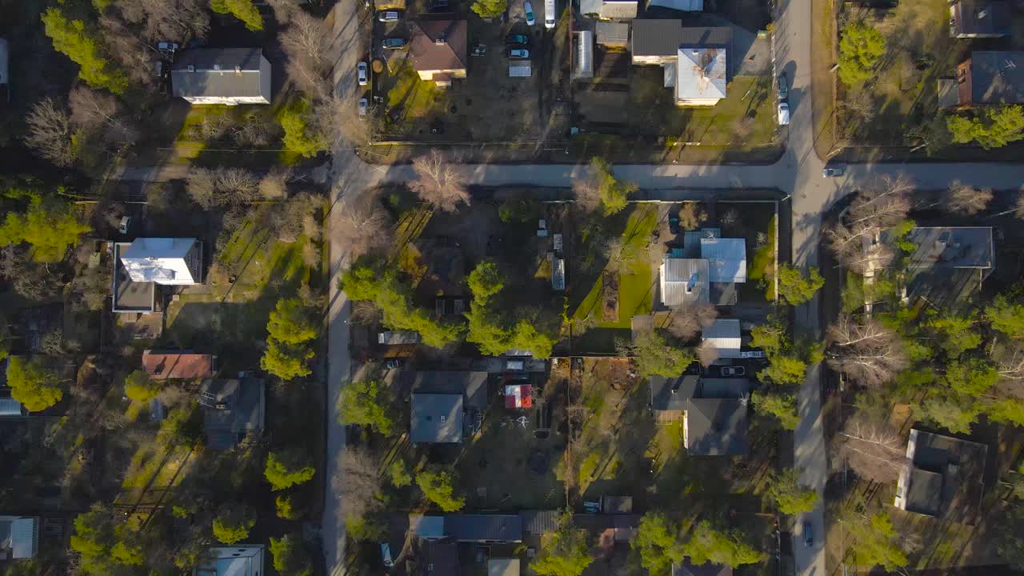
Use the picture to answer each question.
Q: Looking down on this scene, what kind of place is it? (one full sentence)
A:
This looks like a residential area.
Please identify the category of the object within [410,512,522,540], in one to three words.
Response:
shed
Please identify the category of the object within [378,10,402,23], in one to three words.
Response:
vehicle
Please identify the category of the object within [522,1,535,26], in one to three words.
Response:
vehicle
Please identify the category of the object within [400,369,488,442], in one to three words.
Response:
house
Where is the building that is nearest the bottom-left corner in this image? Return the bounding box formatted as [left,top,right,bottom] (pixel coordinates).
[0,513,44,558]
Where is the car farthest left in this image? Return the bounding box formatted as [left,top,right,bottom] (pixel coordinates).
[117,210,133,235]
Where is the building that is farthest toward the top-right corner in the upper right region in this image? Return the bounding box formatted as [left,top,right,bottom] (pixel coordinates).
[951,0,1011,40]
